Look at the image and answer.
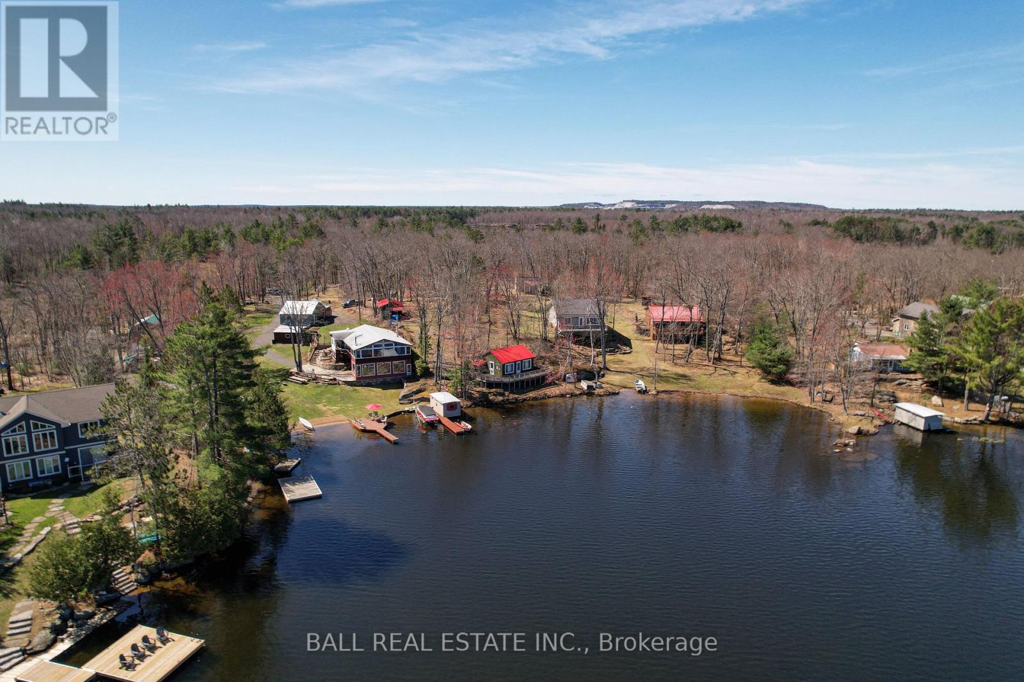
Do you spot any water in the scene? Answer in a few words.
Yes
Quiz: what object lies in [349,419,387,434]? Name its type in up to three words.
pier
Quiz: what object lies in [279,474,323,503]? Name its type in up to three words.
pier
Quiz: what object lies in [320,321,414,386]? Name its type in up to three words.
house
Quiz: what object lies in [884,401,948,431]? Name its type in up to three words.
building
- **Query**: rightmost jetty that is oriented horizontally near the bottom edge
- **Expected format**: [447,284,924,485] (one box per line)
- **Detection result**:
[81,624,214,682]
